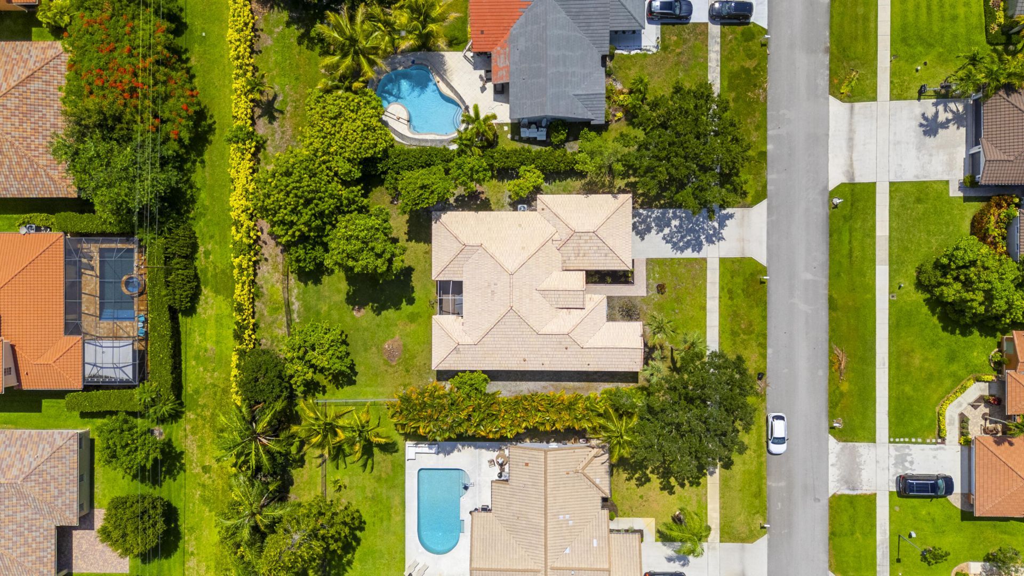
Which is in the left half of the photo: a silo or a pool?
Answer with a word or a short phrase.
pool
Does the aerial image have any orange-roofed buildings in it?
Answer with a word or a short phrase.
Yes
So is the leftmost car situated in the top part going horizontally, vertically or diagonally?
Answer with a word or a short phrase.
horizontally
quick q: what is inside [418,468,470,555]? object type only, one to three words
swimming pool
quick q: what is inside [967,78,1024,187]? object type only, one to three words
house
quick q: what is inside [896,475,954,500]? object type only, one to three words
car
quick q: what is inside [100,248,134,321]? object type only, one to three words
swimming pool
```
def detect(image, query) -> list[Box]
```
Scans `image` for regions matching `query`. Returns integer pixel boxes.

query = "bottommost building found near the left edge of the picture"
[0,429,89,576]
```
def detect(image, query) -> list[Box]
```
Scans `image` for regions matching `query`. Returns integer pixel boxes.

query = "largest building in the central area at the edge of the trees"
[432,194,644,370]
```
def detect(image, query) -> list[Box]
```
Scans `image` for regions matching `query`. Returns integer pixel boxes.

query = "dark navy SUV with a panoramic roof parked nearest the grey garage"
[647,1,693,22]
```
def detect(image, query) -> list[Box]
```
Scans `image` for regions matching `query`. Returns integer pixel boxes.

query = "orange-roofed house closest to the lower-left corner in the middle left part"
[0,232,92,394]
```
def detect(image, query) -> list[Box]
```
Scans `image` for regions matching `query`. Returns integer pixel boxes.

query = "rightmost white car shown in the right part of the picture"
[767,413,790,455]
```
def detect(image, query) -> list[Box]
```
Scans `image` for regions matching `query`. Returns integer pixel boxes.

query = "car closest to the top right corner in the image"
[709,0,754,23]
